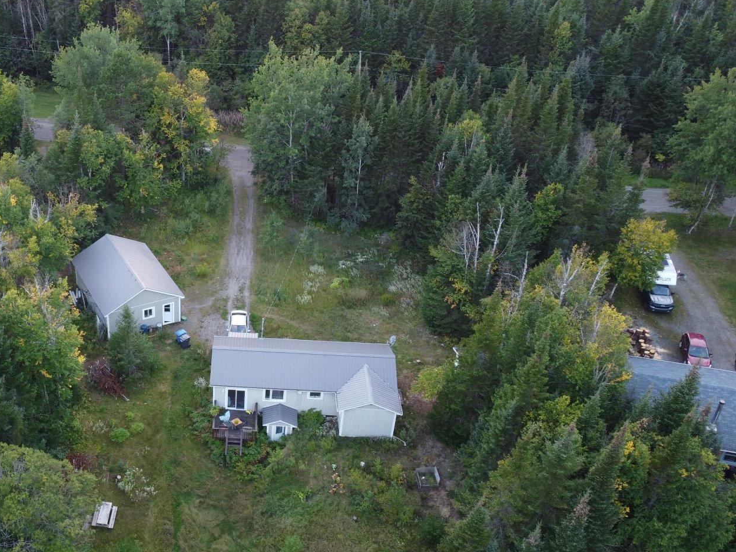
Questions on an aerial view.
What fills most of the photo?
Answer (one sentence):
The bulk of the photo consists of trees.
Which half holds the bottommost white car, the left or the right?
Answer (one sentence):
The bottommost white car sits on the left side.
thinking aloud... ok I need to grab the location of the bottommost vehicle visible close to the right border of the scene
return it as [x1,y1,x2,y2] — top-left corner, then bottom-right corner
[671,329,717,368]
